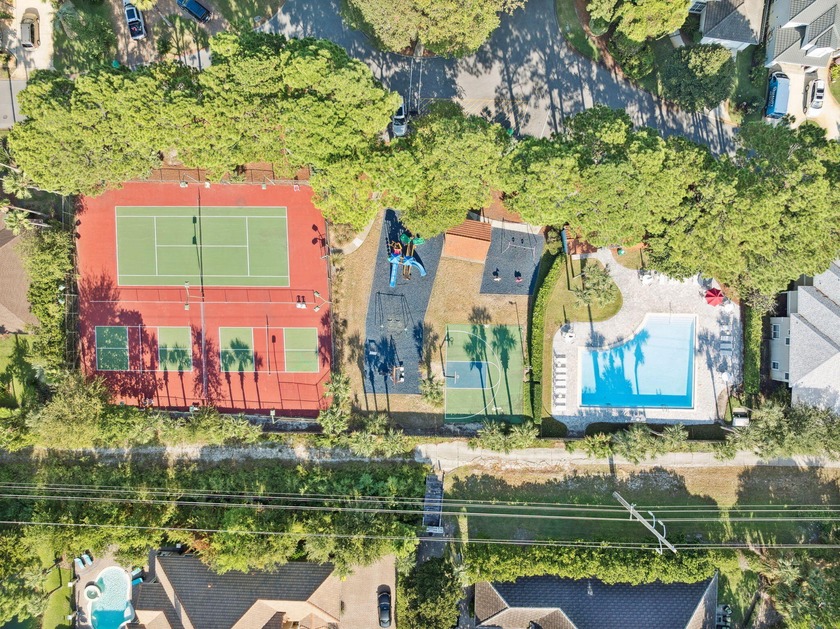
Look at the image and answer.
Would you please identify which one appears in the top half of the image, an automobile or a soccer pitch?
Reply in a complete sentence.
Visible in the top half of the image is an automobile.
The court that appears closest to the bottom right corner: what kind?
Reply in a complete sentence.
What you see as the court that appears closest to the bottom right corner is a basketball court.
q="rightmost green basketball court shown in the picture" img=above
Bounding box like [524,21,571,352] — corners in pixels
[445,324,524,423]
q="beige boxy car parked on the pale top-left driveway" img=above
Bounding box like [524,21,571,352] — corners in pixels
[18,11,40,47]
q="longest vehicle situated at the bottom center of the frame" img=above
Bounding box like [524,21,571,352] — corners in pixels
[377,590,394,627]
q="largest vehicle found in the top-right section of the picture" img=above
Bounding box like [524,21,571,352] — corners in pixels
[764,72,792,120]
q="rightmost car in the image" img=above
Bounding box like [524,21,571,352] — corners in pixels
[804,78,827,115]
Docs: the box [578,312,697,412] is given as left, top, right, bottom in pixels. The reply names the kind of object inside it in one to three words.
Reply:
swimming pool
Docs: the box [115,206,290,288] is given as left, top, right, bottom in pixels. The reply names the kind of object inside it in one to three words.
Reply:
tennis court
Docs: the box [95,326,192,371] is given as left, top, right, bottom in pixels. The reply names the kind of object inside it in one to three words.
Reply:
sports court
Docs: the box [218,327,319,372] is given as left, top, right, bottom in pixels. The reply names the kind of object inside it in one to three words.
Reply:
sports court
